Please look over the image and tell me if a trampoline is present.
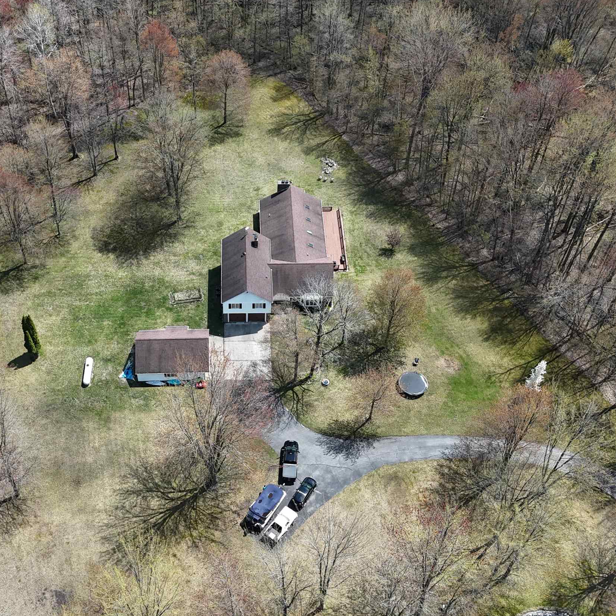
Yes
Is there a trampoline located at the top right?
No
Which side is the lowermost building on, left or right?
left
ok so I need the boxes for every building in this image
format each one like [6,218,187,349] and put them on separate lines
[135,327,210,380]
[220,178,333,322]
